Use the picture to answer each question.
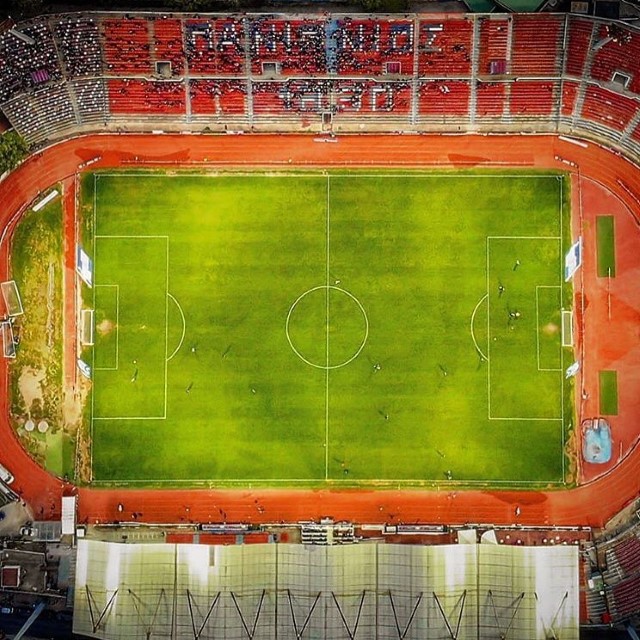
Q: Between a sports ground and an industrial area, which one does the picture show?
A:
sports ground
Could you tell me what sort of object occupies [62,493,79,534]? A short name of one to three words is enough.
building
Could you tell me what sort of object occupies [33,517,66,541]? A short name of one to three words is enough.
building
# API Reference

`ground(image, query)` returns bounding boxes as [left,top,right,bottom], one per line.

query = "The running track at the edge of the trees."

[0,134,640,524]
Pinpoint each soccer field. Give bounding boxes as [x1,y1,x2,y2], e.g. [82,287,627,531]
[90,174,566,483]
